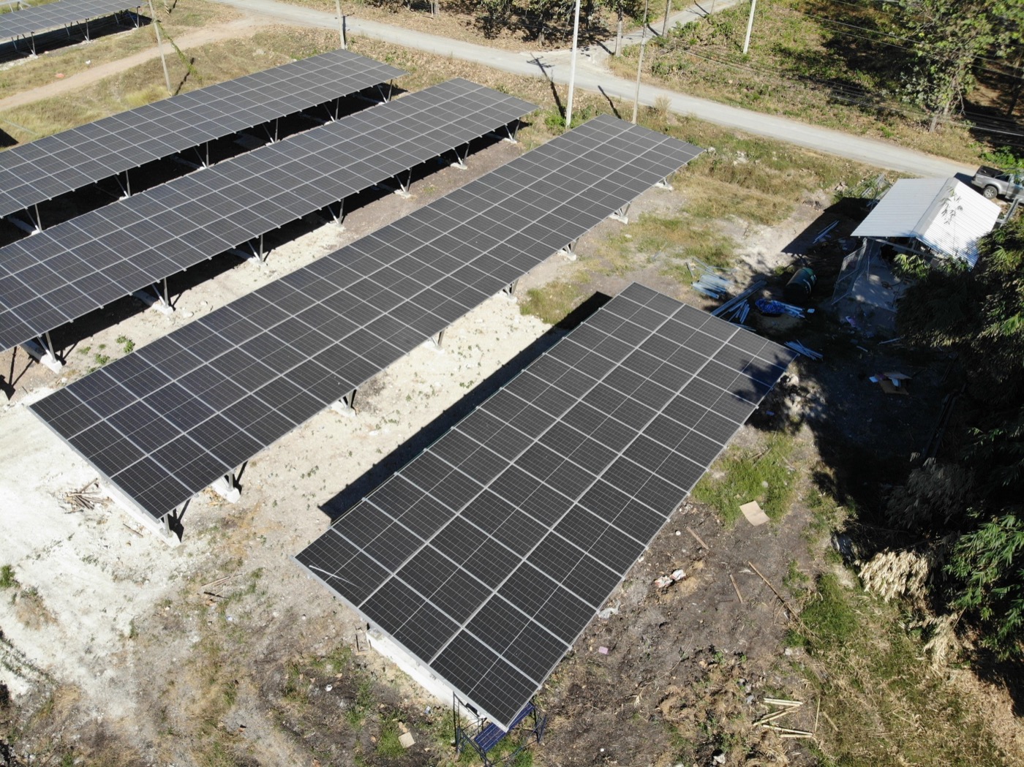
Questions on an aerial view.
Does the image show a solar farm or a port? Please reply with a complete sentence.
The picture captures a solar farm.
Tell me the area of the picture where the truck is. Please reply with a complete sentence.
You can find the truck in the top right area of the picture.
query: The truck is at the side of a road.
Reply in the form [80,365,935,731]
[969,161,1024,203]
